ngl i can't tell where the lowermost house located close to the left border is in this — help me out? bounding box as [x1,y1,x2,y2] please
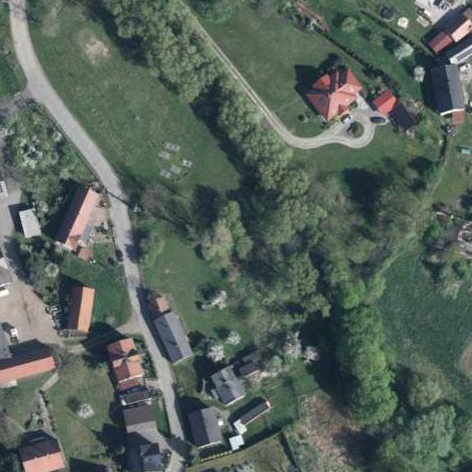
[19,438,65,472]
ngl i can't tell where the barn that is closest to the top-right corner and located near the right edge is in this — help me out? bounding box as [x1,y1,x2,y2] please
[443,8,472,43]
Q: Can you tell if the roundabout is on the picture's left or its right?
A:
right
